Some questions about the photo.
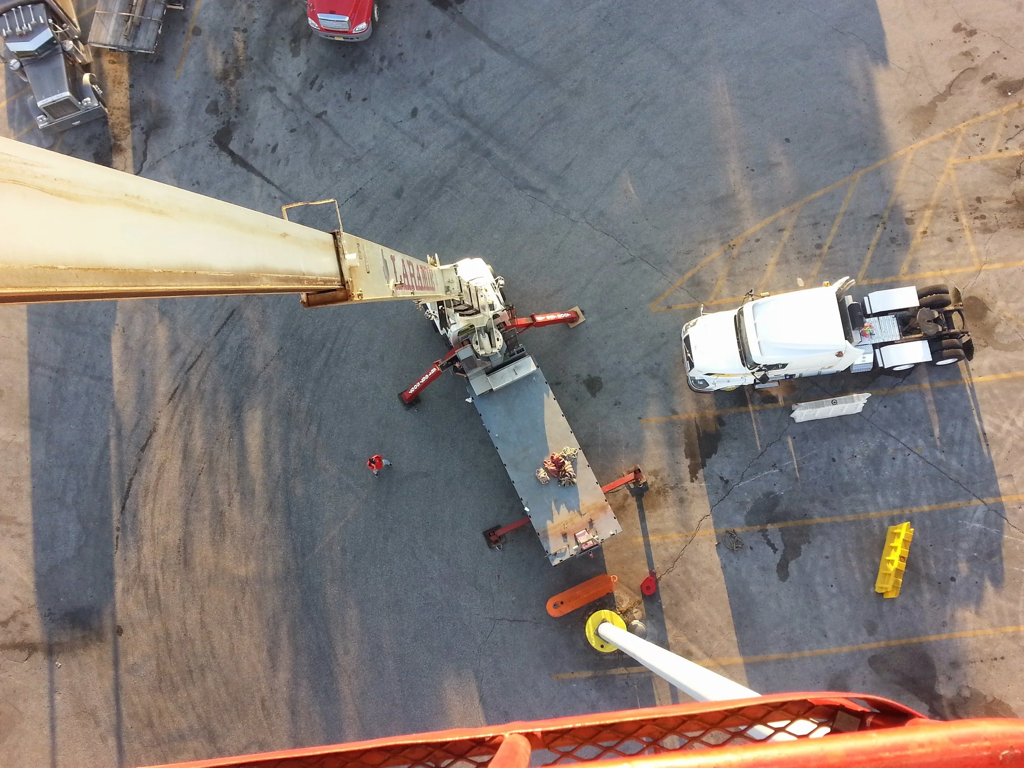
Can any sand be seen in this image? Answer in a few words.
No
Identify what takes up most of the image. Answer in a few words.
paved ground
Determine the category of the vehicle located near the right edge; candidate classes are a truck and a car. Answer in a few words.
truck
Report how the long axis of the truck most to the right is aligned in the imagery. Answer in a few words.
horizontally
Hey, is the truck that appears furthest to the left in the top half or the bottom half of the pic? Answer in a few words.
top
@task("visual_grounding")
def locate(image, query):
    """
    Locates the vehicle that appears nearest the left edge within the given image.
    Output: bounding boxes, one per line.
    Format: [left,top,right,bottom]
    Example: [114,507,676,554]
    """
[0,0,111,133]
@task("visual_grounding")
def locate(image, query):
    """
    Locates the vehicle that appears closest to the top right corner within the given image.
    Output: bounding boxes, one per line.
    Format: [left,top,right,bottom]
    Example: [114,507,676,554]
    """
[671,276,974,396]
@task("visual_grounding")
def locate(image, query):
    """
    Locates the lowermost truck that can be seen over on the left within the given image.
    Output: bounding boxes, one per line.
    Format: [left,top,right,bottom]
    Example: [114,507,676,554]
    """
[0,121,643,567]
